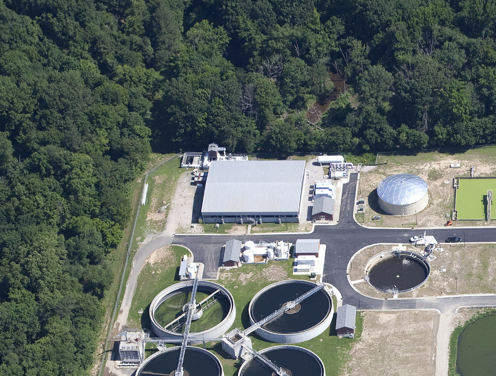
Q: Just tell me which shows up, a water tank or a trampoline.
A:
water tank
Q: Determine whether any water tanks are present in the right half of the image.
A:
Yes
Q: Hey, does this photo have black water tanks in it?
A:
Yes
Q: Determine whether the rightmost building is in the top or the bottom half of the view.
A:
bottom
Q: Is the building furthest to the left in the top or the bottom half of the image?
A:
bottom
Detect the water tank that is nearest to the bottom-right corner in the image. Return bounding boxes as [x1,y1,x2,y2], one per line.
[363,246,430,295]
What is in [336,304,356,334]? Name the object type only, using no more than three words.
building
